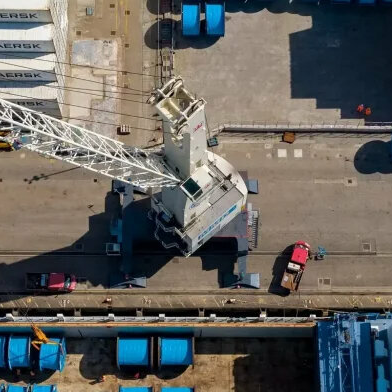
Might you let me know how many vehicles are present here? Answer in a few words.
2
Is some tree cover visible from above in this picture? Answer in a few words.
No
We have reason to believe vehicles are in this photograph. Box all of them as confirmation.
[285,242,309,291]
[24,270,75,290]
